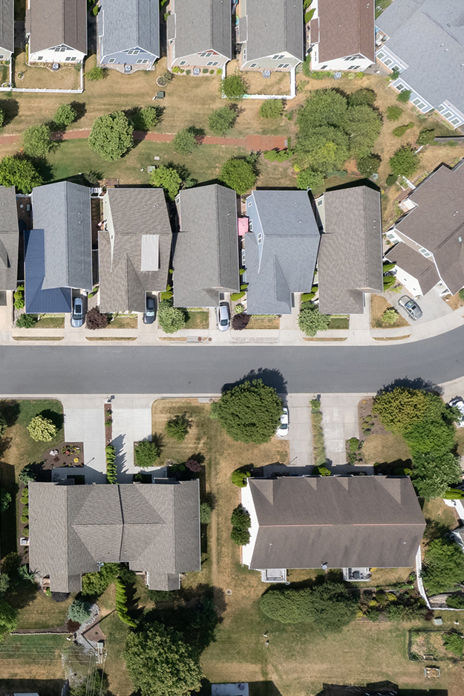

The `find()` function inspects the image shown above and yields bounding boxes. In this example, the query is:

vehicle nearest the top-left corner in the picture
[71,295,84,328]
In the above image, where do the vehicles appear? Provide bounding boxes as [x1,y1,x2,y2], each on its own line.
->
[274,407,289,438]
[215,303,231,331]
[396,292,422,322]
[71,295,84,328]
[142,295,158,325]
[448,399,464,426]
